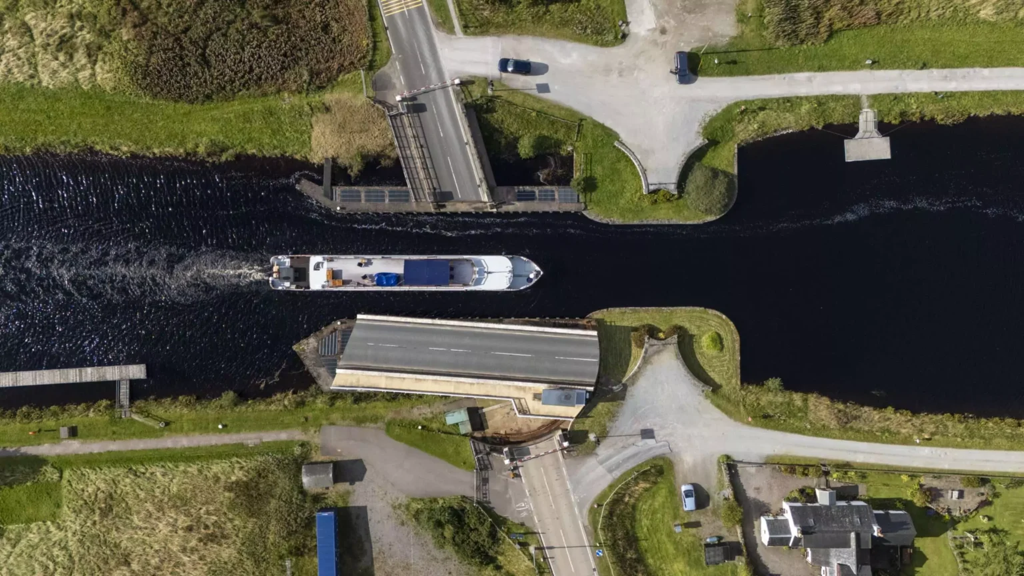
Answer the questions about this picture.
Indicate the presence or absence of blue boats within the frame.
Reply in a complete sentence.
No, the photo shows no blue boat.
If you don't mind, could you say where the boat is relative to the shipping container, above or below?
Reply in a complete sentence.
In the image, the boat sits above the shipping container.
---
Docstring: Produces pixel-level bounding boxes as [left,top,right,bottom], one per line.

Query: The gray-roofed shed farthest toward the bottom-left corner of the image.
[303,458,337,490]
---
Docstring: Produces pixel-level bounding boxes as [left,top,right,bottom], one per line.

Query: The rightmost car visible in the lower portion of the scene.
[681,483,696,512]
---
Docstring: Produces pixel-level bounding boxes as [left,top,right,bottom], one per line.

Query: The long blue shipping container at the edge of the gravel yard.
[317,505,343,576]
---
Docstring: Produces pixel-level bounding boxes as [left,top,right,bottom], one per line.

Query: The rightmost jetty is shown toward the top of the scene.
[824,108,912,162]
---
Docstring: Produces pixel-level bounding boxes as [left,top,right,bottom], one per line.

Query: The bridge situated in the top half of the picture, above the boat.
[372,97,499,203]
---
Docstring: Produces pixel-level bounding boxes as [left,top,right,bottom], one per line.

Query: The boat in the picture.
[269,252,543,292]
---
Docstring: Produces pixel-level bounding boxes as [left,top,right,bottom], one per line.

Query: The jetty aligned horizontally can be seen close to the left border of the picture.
[0,364,147,417]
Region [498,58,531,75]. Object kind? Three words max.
car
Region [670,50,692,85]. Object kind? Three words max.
car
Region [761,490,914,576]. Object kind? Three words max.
house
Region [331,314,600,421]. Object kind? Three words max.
bridge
